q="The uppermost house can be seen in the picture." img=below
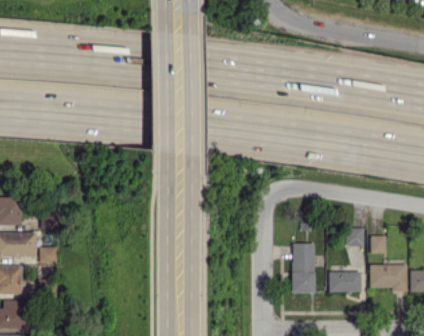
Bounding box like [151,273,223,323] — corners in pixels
[0,196,22,224]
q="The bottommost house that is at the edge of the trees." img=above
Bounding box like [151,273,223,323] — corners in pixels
[0,300,26,328]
